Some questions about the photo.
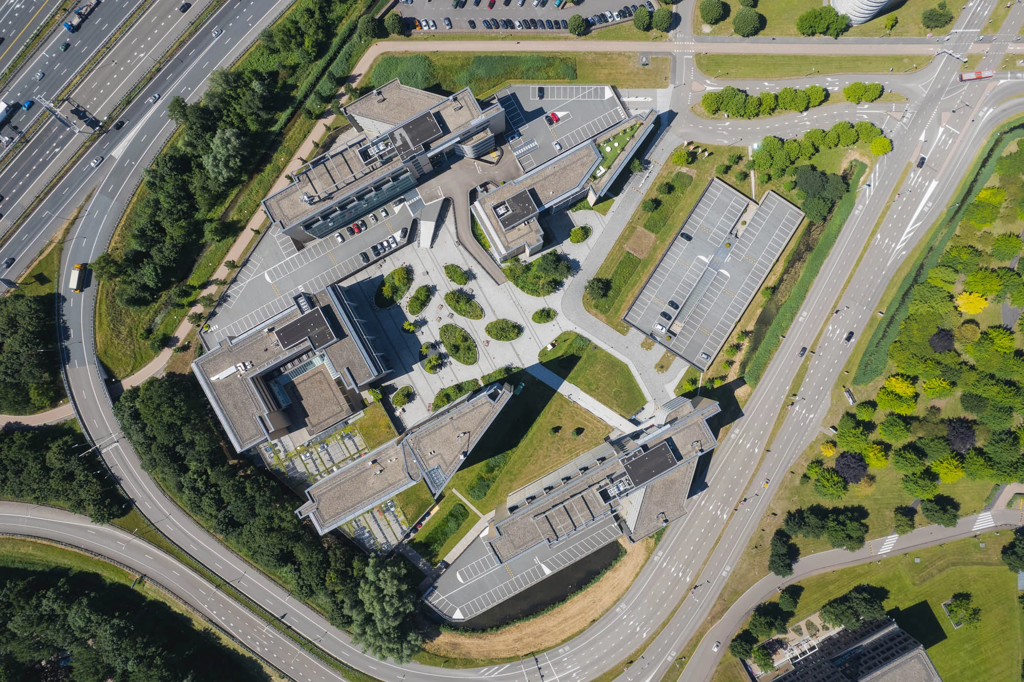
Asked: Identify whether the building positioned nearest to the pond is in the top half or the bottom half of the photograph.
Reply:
bottom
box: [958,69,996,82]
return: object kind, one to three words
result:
vehicle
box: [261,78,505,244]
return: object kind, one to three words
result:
building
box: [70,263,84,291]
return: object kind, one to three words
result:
vehicle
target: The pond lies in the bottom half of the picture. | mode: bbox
[434,539,627,633]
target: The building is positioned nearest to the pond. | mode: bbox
[489,397,721,563]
